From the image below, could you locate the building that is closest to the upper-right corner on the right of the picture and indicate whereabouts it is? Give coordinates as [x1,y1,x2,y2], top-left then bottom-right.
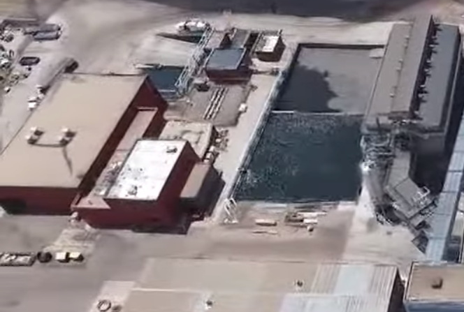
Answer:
[361,7,464,163]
